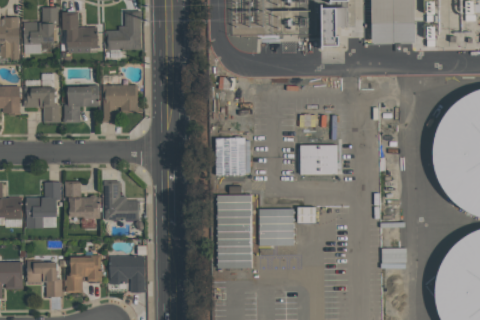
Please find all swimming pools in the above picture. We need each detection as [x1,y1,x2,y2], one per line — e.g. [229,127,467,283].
[48,240,63,249]
[112,224,131,236]
[68,68,92,80]
[112,242,134,254]
[122,66,143,84]
[0,67,20,84]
